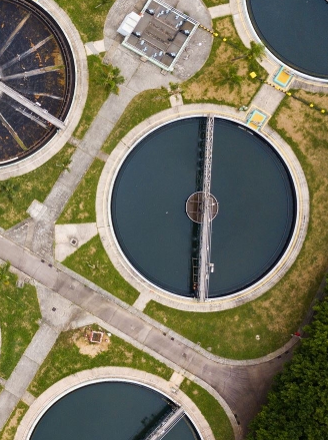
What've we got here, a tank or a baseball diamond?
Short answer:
tank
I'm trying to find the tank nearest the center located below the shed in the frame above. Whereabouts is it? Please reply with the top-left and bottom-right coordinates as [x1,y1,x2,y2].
[97,102,307,312]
